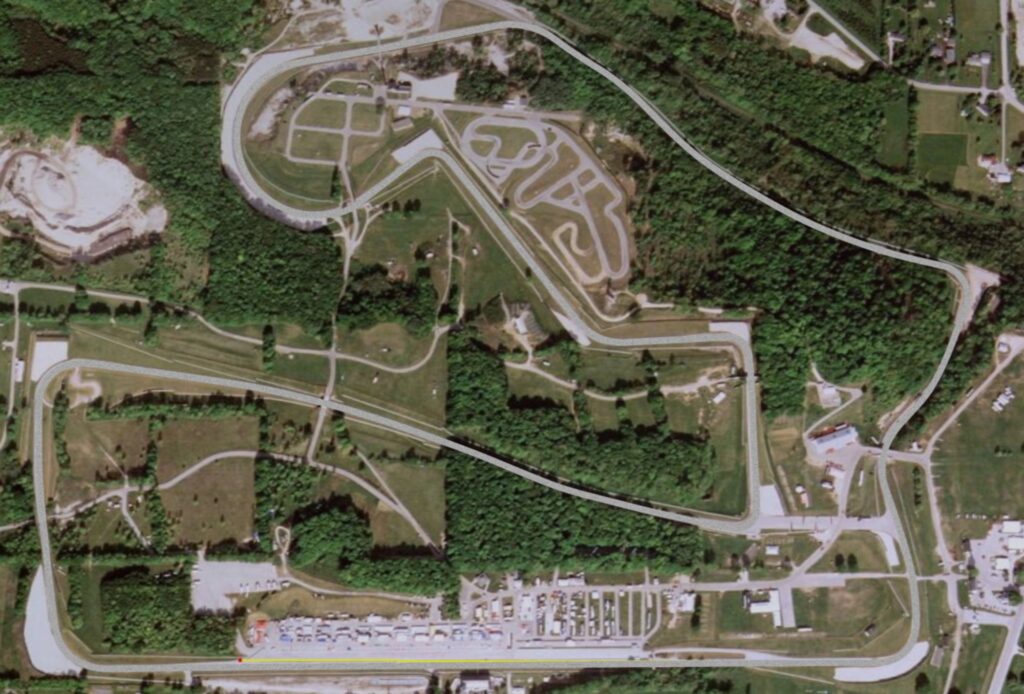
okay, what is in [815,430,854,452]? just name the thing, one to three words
building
